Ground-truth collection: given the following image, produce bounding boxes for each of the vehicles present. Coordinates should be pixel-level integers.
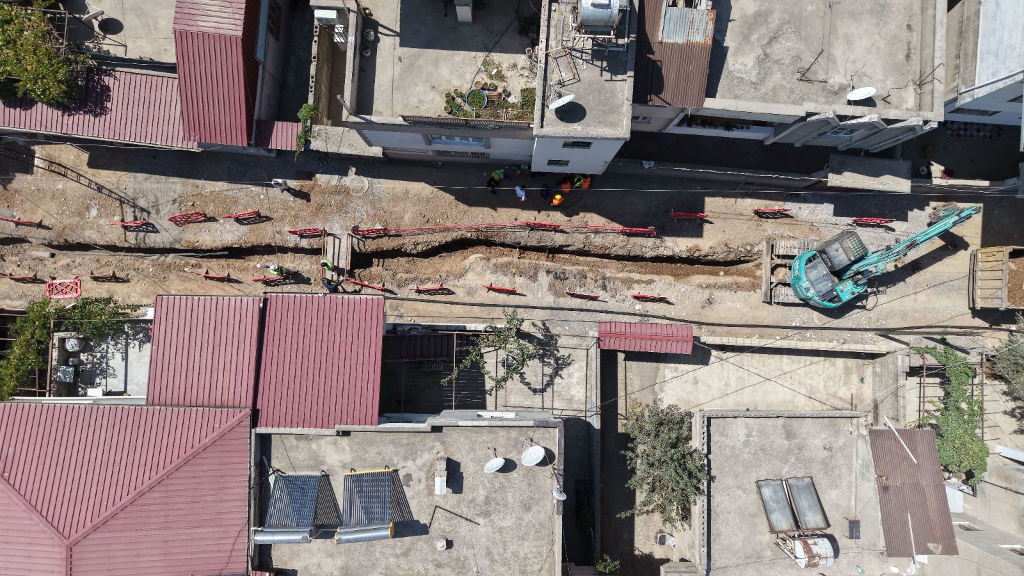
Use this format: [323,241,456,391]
[959,249,1024,307]
[760,192,988,309]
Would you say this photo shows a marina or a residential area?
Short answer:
residential area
